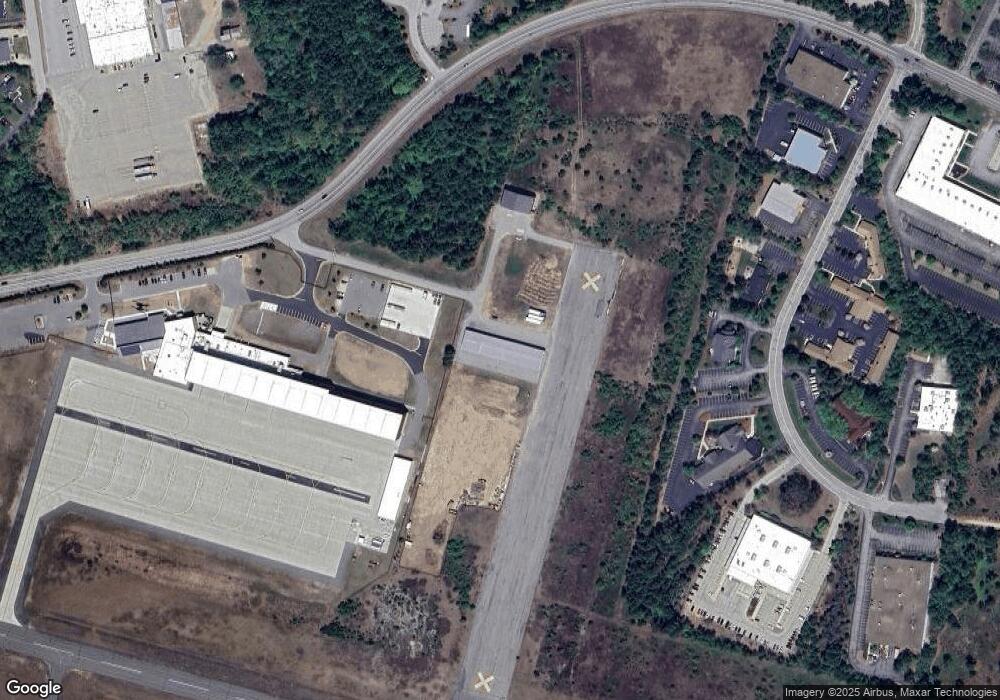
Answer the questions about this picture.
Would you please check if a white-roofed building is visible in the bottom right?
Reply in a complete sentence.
Yes, a white-roofed building is visible in the bottom right.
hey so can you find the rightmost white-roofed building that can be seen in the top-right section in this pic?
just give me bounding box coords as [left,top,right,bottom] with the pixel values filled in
[896,116,1000,243]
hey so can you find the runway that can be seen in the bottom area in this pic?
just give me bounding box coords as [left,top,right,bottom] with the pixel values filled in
[452,245,621,700]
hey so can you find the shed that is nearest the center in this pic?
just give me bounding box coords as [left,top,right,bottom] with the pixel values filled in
[461,331,544,372]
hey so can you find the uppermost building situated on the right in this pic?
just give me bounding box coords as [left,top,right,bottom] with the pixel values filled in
[785,49,851,107]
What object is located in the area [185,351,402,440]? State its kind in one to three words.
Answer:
hangar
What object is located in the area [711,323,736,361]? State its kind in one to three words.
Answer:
house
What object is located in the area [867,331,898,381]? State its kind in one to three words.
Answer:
building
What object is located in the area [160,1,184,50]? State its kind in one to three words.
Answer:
shed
